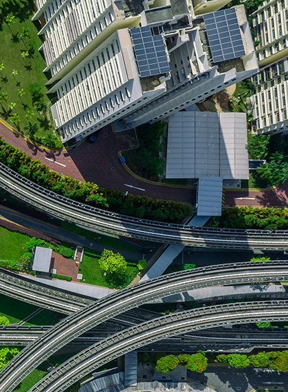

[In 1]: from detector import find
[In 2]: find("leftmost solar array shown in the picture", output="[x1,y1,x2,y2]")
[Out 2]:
[130,26,170,77]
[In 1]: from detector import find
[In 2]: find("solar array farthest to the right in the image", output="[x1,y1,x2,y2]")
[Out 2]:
[201,9,245,63]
